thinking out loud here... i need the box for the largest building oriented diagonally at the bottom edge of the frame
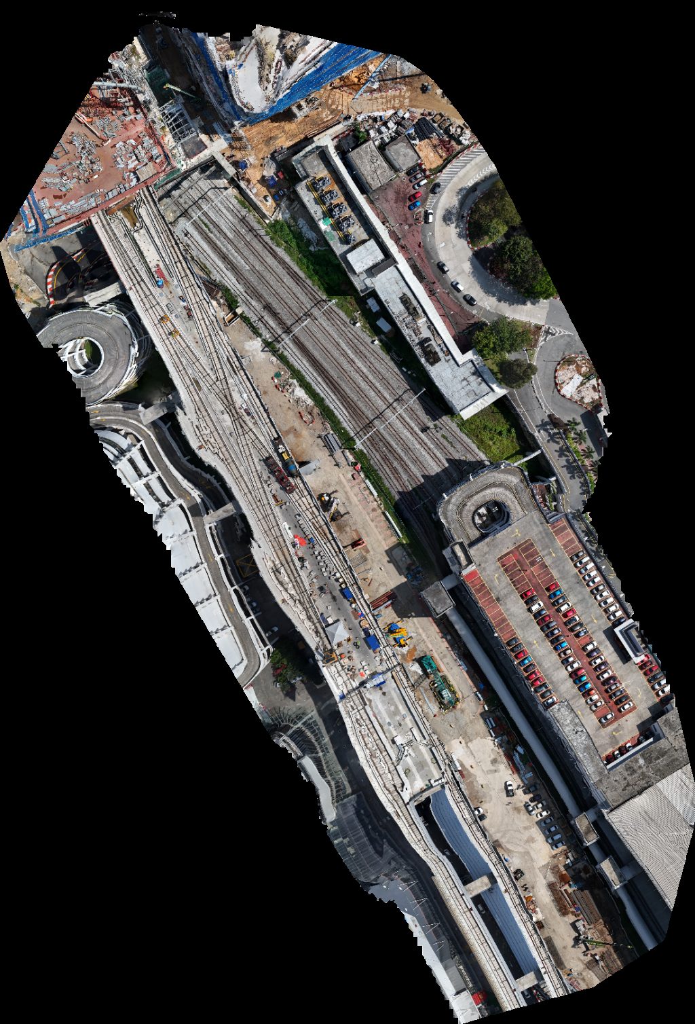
[370,866,481,1023]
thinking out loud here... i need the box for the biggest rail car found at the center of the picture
[274,447,297,478]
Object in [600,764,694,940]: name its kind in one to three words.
building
